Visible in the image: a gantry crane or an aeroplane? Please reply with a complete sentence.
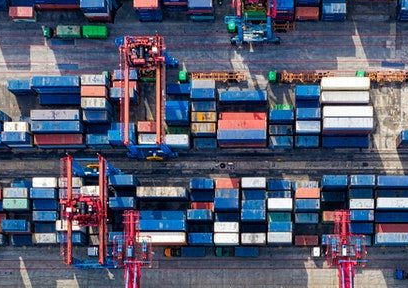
I can see a gantry crane in this picture.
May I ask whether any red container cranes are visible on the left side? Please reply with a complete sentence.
Yes, a red container crane is visible on the left side.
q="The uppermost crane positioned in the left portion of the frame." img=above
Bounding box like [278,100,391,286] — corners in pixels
[113,36,178,161]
